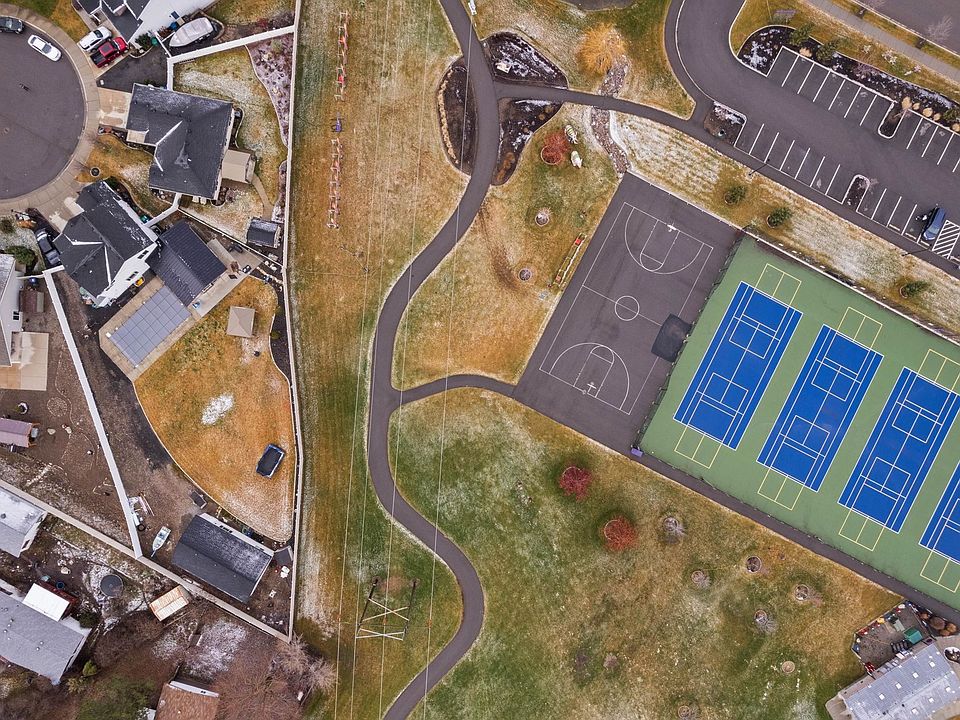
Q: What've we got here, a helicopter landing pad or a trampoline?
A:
trampoline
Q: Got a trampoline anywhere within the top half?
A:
No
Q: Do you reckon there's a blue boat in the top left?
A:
No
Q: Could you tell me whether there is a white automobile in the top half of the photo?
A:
Yes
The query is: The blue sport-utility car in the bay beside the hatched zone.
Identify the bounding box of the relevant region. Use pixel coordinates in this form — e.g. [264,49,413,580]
[924,206,953,240]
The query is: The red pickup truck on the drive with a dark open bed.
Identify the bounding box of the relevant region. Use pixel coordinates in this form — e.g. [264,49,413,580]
[87,36,127,65]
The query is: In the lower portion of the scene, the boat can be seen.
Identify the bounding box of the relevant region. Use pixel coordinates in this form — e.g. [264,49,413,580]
[151,528,169,554]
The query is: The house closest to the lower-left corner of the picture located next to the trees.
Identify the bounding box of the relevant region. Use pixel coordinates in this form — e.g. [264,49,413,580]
[0,580,88,686]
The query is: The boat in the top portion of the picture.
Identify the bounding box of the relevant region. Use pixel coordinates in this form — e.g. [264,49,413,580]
[162,13,212,50]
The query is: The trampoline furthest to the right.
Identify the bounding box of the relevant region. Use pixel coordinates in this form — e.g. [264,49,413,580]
[257,444,283,477]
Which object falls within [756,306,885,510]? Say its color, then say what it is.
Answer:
blue sports court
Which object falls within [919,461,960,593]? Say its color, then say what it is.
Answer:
blue sports court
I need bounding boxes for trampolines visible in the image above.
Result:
[257,444,283,477]
[98,574,123,597]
